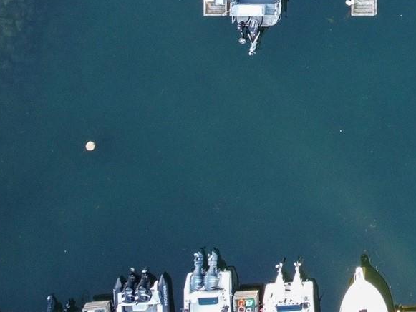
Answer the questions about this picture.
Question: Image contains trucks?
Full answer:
No, the frame has no truck in it.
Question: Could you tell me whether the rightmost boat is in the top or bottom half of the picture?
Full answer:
You can find the rightmost boat in the bottom half.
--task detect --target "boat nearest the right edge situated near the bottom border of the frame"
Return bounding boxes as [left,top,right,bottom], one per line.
[340,266,388,312]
